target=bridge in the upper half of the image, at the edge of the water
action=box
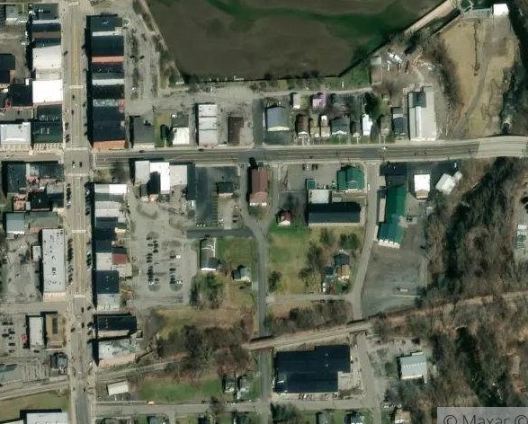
[481,136,526,158]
